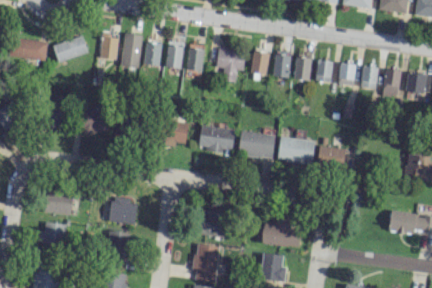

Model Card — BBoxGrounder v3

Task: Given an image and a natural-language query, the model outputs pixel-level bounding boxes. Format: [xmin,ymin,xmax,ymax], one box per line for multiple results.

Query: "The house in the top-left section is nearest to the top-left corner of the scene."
[9,40,48,63]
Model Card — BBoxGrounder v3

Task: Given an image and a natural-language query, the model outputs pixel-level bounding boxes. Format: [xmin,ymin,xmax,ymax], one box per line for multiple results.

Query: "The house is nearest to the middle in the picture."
[200,124,236,158]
